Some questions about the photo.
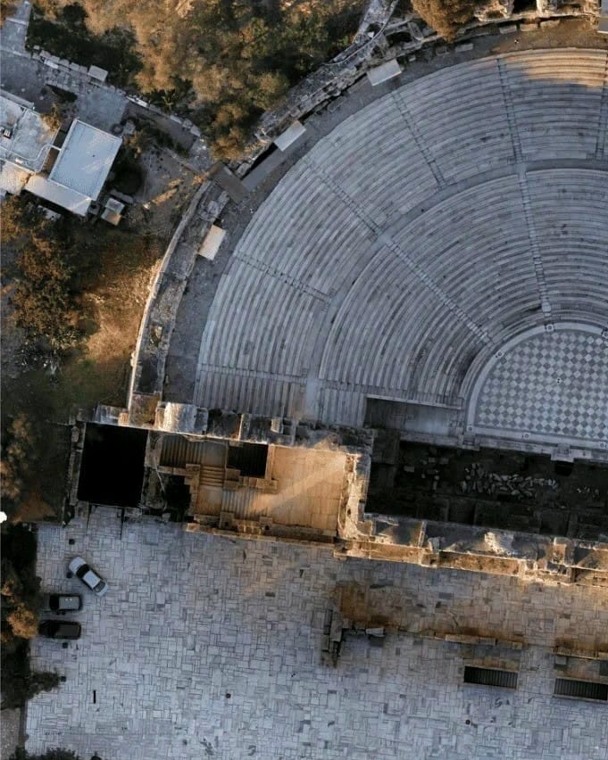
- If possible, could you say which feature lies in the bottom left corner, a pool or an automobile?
automobile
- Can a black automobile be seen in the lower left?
Yes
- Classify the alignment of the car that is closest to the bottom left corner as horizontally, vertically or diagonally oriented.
horizontally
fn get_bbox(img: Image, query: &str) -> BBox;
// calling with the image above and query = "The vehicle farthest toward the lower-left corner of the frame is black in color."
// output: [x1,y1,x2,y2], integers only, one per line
[38,619,84,642]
